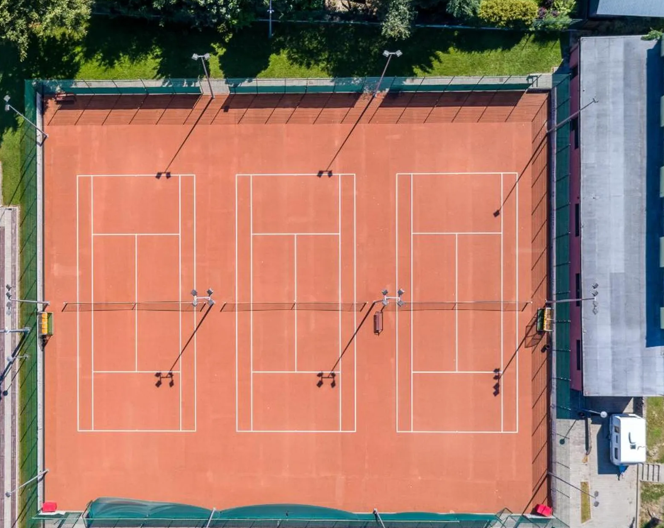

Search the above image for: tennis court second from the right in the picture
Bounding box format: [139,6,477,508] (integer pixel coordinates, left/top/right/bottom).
[232,169,359,436]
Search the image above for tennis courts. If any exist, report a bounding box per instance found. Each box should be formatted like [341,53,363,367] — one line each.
[392,168,522,437]
[232,169,359,436]
[73,171,199,436]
